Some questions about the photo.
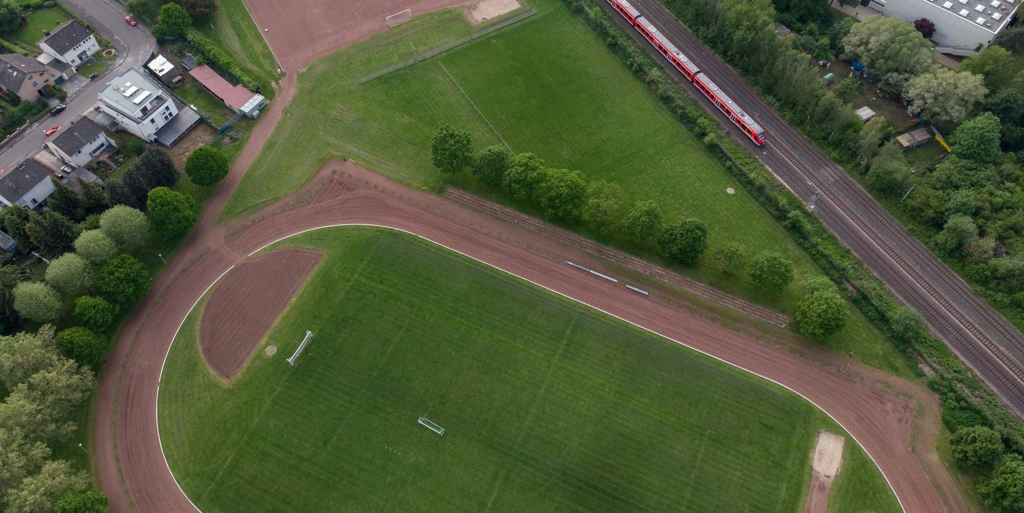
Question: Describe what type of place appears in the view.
sports ground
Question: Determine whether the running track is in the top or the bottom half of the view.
bottom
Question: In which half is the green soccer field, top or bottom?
bottom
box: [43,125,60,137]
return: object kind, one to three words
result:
vehicle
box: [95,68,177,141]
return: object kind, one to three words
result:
house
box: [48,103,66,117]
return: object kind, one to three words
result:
car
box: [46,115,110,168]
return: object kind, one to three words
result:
house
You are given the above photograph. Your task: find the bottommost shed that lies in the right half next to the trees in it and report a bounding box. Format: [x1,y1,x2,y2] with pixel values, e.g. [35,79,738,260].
[893,127,931,152]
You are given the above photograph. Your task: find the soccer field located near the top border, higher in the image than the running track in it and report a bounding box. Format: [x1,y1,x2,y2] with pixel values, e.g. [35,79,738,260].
[242,0,473,72]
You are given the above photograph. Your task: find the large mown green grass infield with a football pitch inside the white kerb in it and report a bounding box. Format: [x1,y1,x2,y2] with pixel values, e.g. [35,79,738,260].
[157,224,904,513]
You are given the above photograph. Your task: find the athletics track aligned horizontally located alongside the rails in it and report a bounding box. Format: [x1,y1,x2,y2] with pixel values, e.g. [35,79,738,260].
[115,176,948,513]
